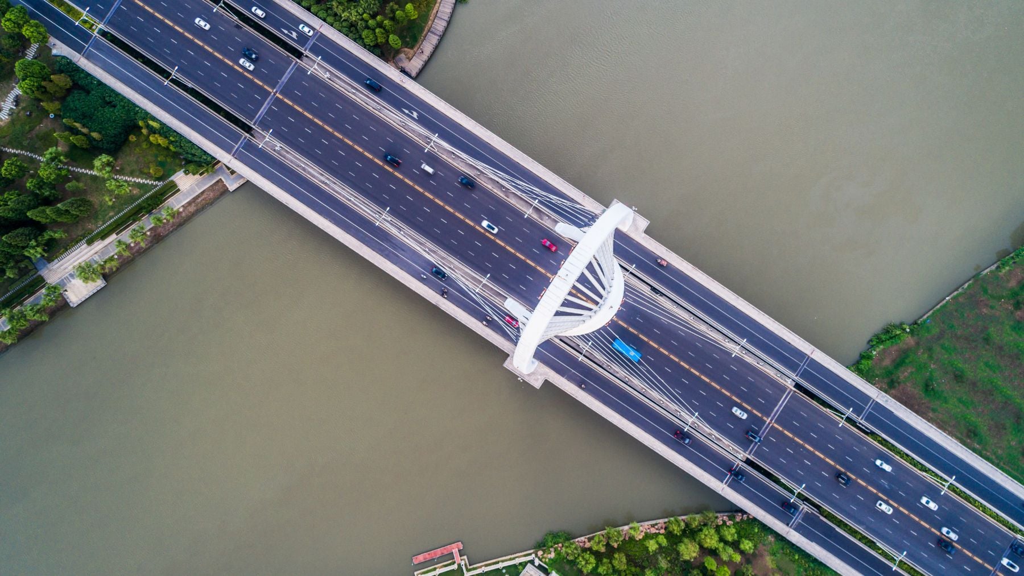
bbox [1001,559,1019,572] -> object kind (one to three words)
vehicle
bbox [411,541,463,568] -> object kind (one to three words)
pier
